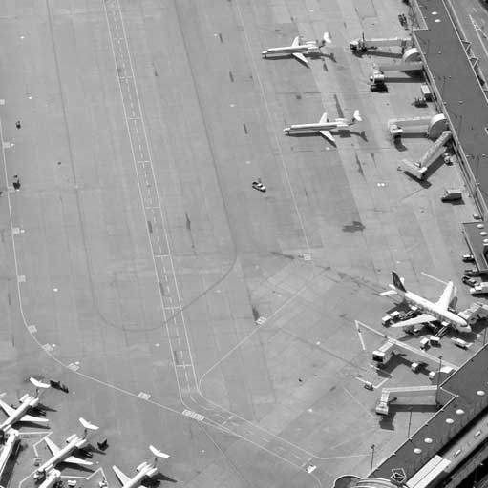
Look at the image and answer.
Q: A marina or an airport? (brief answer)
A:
airport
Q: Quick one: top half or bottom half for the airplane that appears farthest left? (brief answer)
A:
bottom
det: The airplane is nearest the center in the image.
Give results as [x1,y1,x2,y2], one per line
[285,107,362,140]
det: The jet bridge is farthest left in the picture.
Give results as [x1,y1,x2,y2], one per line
[0,426,19,486]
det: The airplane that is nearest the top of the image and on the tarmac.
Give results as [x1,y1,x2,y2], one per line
[263,31,335,62]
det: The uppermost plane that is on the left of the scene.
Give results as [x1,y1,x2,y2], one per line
[0,377,55,437]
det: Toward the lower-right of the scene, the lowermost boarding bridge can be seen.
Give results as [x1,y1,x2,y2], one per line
[374,384,441,417]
